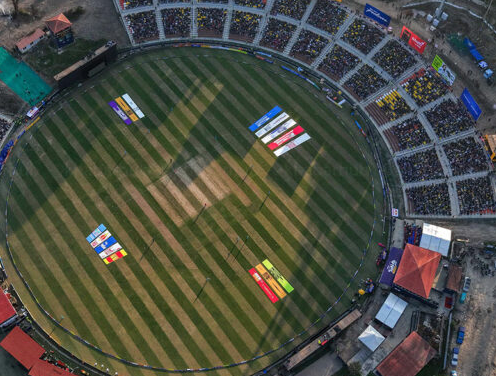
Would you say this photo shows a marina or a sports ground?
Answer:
sports ground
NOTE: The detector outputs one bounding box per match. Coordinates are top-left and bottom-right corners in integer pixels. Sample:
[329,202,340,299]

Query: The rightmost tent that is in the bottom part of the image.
[420,224,452,262]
